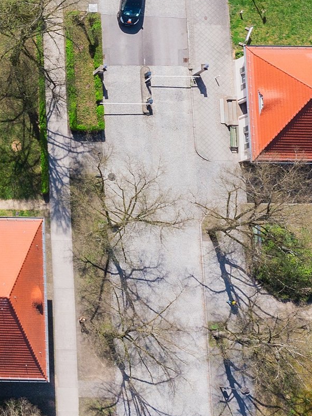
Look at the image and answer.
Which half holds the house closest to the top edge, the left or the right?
right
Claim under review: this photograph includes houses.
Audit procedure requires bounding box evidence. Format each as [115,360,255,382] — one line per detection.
[214,45,312,168]
[0,215,52,384]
